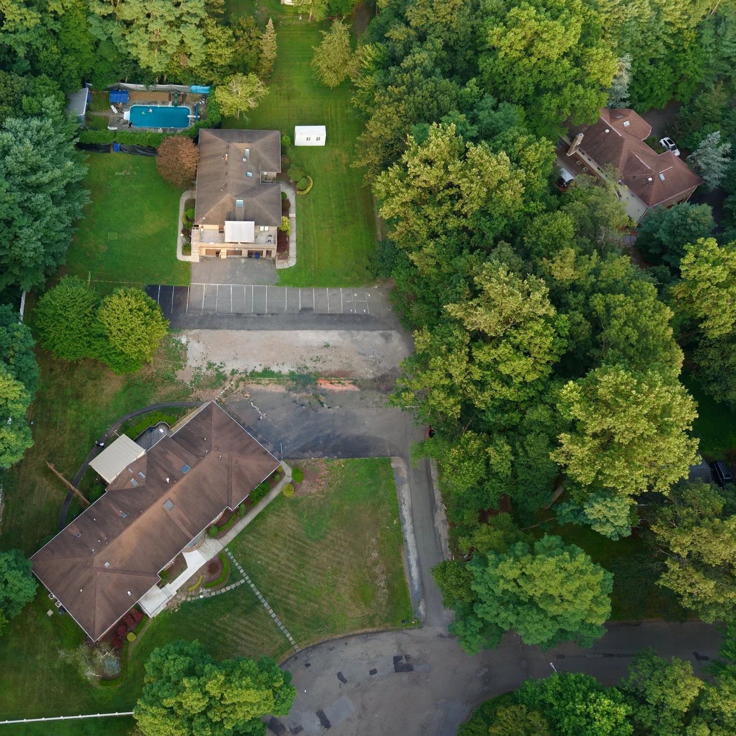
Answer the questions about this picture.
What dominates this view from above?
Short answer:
trees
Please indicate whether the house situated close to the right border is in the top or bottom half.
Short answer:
top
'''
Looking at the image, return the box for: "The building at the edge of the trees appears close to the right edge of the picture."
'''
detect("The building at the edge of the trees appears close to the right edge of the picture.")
[556,108,705,217]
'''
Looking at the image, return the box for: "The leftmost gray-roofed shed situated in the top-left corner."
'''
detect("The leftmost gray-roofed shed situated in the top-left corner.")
[69,87,88,125]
